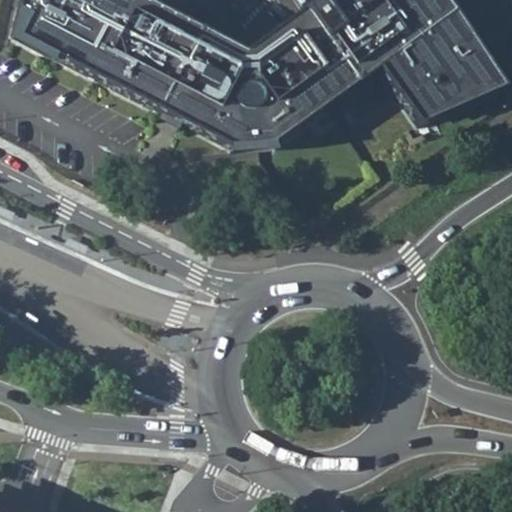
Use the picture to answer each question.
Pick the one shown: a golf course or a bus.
bus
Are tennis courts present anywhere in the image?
No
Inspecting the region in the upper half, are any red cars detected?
Yes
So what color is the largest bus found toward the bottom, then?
white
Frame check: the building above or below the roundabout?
above it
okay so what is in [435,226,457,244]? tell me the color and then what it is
white car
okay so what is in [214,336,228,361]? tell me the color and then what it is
white car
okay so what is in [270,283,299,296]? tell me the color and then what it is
white vehicle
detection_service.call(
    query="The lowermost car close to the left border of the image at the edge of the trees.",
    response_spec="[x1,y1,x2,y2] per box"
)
[7,390,30,405]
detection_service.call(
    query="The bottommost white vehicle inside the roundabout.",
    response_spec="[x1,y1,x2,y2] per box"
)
[240,432,359,472]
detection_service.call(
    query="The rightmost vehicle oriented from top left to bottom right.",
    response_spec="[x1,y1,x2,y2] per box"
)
[348,282,370,300]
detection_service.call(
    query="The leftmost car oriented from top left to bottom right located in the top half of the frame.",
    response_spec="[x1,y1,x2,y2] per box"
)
[4,152,26,170]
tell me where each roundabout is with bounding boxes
[186,264,431,496]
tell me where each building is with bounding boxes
[16,0,508,149]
